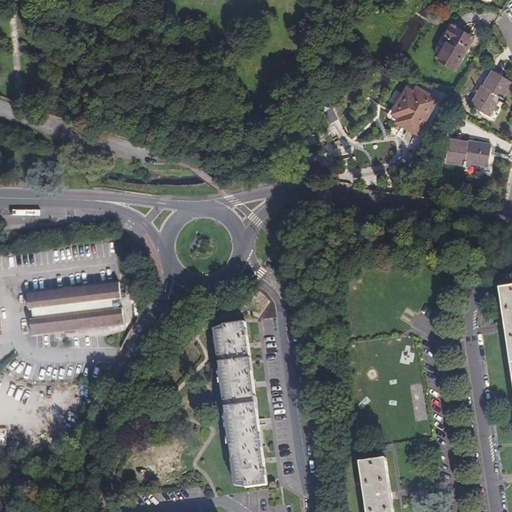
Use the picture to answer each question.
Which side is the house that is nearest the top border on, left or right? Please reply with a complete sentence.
The house that is nearest the top border is on the right side of the image.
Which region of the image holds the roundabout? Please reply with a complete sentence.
The roundabout sits in the center section of the image.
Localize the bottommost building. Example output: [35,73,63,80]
[357,457,394,512]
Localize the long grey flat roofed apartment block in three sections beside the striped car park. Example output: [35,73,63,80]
[212,320,270,488]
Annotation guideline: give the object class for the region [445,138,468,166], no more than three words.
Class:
house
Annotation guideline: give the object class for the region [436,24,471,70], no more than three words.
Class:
house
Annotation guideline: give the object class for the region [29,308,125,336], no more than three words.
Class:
shed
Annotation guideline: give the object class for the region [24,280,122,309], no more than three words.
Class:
shed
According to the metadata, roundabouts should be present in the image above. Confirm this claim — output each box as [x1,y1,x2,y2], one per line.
[158,200,250,291]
